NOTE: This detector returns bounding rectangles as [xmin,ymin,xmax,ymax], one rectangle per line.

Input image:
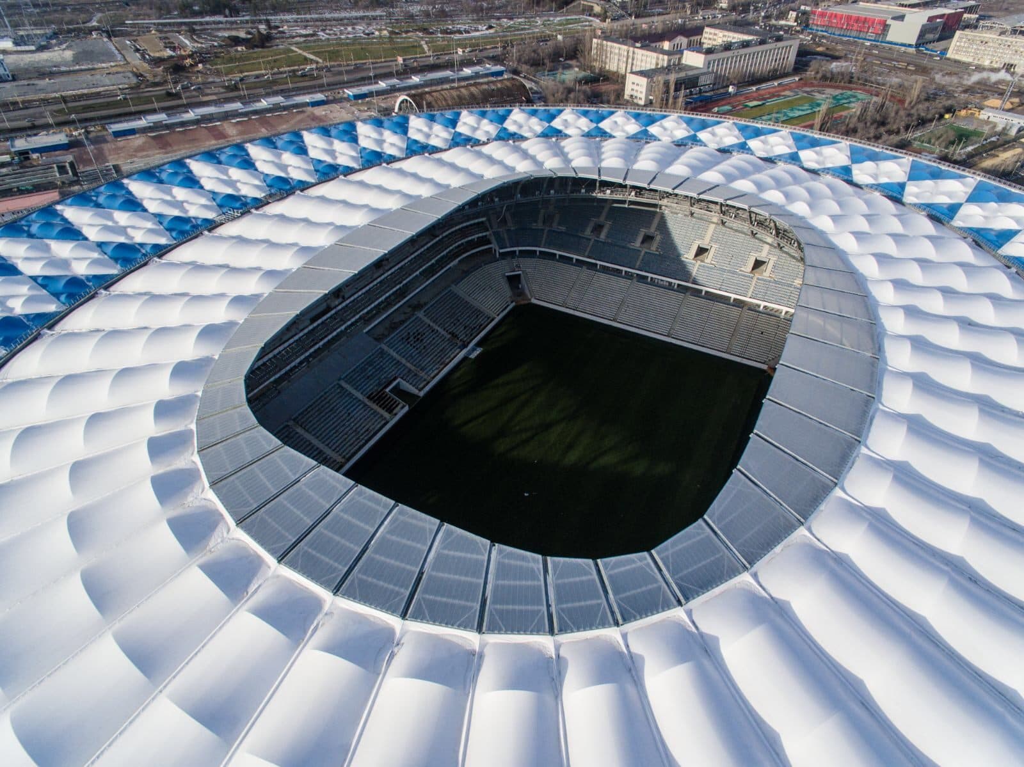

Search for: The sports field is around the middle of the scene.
[281,299,770,610]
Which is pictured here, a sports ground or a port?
sports ground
